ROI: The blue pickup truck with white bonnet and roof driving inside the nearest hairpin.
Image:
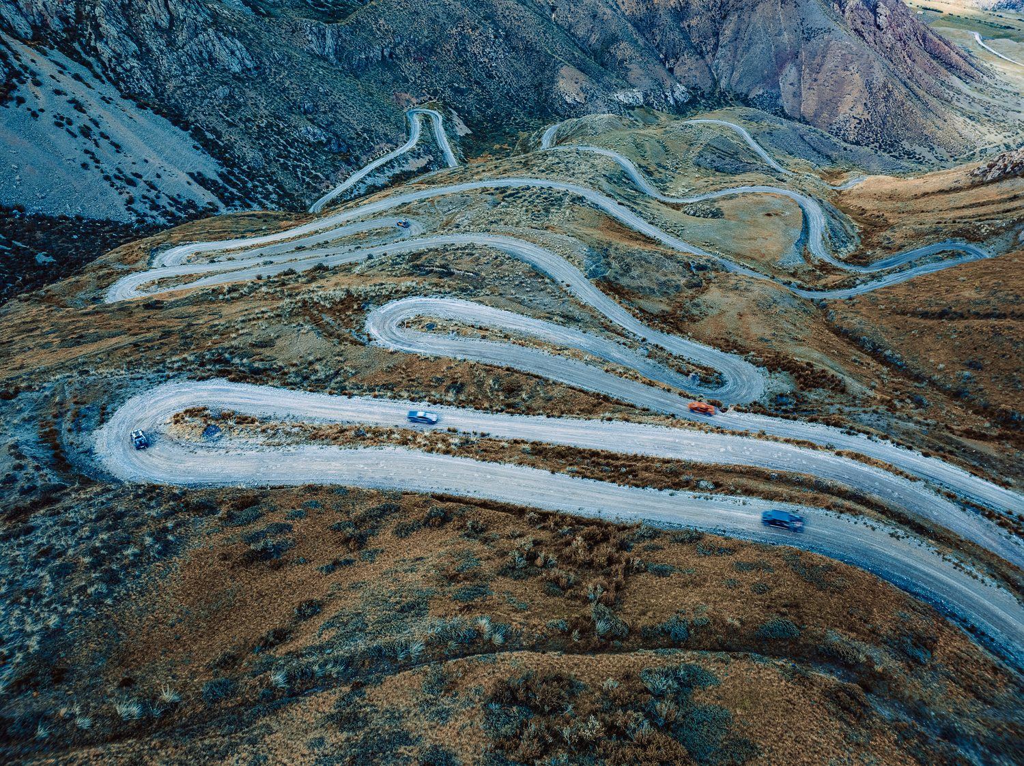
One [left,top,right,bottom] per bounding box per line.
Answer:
[404,409,440,426]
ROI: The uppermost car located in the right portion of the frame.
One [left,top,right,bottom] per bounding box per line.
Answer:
[688,403,715,417]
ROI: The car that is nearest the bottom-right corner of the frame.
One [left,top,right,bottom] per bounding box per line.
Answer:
[761,511,807,536]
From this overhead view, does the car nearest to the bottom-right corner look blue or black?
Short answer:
blue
